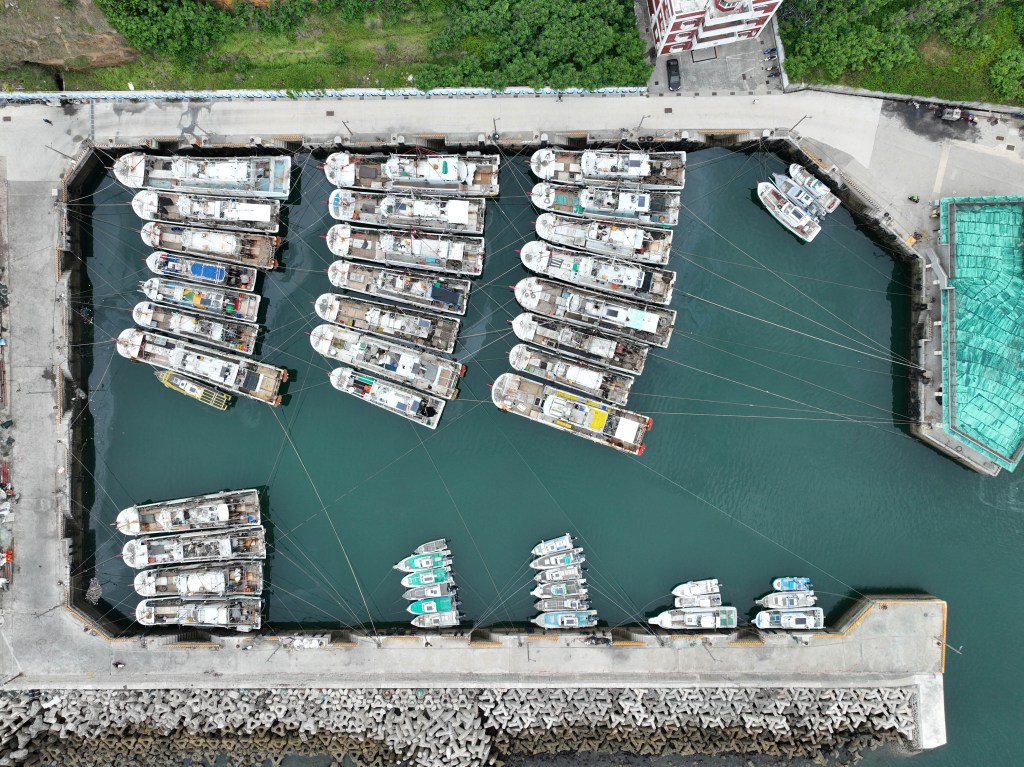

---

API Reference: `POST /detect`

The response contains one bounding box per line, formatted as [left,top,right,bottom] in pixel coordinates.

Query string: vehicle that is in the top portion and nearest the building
[666,56,683,89]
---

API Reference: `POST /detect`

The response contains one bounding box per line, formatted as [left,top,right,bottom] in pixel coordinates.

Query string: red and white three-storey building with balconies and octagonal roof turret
[647,0,785,58]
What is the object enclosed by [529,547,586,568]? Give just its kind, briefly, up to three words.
boat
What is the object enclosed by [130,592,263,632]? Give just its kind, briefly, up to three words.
boat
